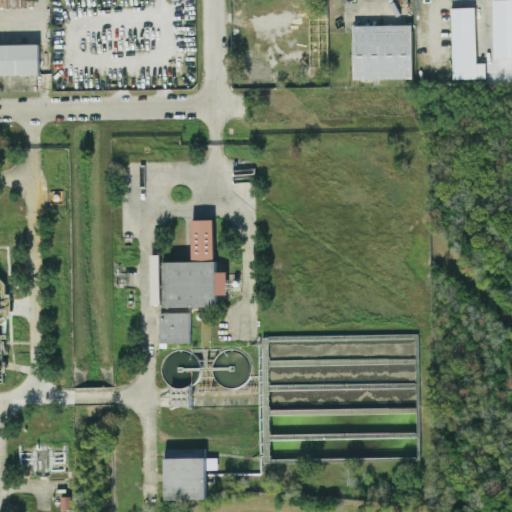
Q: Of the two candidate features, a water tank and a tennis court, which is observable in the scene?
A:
water tank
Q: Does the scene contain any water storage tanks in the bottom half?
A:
Yes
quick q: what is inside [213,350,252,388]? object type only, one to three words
water tank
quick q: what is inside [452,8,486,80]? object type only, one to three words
building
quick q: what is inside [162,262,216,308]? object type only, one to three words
building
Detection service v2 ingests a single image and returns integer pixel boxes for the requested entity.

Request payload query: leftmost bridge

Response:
[71,388,116,405]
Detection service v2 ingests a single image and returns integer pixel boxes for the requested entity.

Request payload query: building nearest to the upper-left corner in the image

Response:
[0,45,40,76]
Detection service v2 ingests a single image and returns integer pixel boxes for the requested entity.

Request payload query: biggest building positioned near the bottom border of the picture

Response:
[163,458,207,500]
